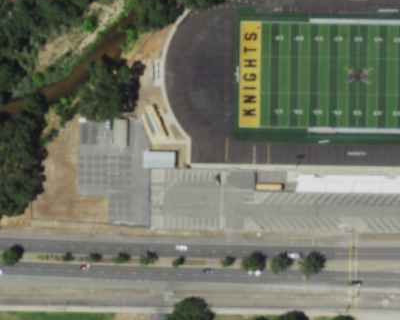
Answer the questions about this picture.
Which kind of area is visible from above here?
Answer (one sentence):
The picture captures a sports ground.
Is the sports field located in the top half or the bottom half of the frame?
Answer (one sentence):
The sports field sits in the top half of the picture.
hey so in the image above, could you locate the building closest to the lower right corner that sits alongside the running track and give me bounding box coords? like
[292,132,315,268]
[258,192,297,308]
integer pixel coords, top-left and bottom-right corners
[228,170,258,190]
